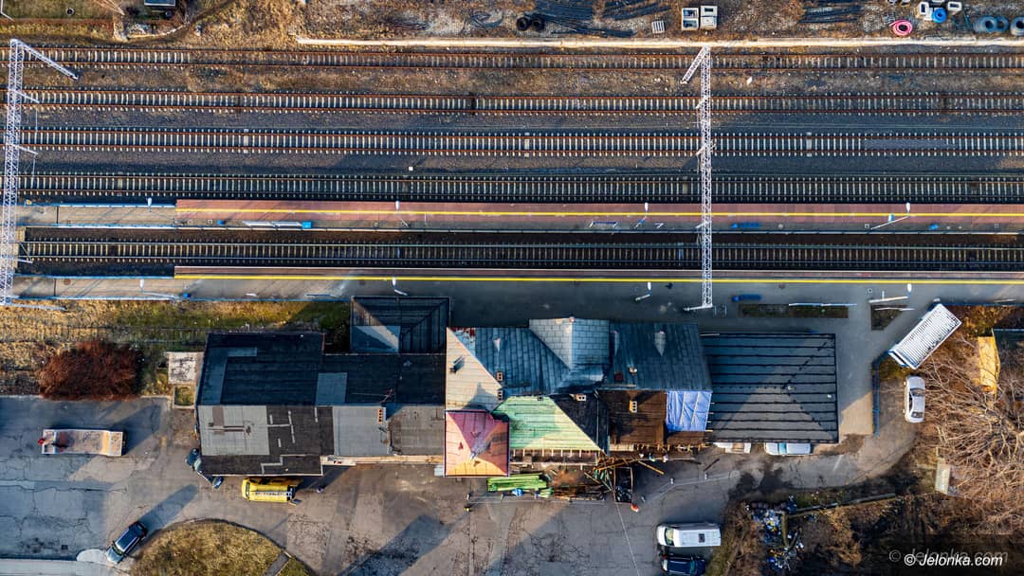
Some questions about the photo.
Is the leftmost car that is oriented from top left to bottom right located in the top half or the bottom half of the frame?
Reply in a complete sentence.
Seen from above, the leftmost car that is oriented from top left to bottom right lies in the bottom half of the view.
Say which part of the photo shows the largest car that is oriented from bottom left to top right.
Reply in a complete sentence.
You can find the largest car that is oriented from bottom left to top right in the bottom left area of the picture.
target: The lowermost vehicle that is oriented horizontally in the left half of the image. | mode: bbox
[248,476,303,502]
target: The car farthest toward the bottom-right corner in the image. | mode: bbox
[903,375,928,421]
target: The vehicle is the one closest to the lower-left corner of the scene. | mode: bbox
[102,523,146,564]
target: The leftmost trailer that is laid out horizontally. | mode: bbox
[35,429,127,455]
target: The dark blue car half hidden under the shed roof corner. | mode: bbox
[185,447,224,489]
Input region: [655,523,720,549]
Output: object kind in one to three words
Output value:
vehicle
